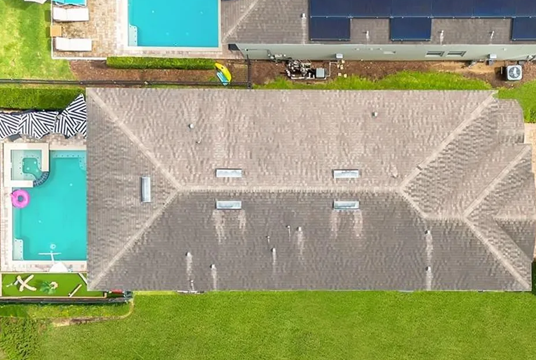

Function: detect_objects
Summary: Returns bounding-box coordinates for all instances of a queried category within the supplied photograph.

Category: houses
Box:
[220,0,536,60]
[85,87,536,292]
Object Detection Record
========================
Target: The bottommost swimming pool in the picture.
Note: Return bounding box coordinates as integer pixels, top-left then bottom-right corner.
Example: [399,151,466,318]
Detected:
[4,142,86,266]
